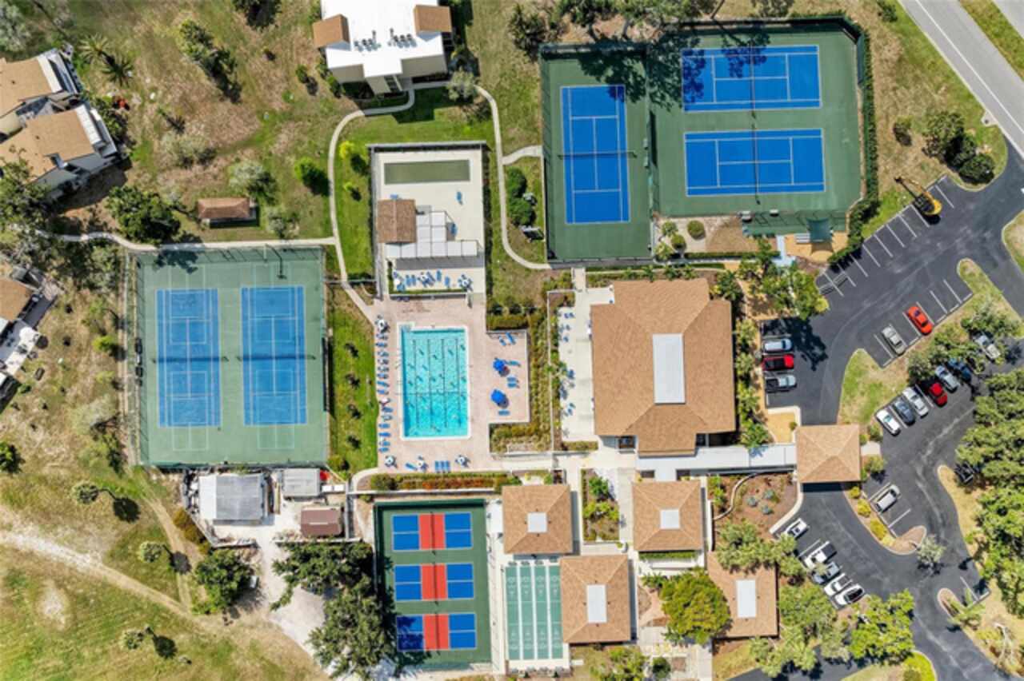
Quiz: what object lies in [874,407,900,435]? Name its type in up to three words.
car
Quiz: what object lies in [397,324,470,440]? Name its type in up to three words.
swimming pool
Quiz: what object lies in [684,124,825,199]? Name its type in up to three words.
tennis court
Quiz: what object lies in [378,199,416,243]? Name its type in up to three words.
shed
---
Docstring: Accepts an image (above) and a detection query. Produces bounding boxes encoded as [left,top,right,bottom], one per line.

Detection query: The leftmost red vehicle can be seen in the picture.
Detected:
[761,356,794,369]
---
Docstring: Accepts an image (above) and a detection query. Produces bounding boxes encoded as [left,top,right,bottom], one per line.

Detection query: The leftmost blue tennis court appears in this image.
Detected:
[150,264,224,450]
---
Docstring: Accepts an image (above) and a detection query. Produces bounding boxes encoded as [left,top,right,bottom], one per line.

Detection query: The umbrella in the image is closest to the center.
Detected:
[492,359,506,372]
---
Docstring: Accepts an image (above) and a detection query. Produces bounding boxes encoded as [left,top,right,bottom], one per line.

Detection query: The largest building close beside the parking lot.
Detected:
[591,278,736,455]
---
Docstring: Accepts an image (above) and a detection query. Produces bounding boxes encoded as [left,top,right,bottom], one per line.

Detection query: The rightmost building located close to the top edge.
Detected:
[313,0,452,92]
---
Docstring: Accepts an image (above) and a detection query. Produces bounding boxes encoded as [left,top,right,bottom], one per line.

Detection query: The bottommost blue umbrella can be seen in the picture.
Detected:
[490,389,505,404]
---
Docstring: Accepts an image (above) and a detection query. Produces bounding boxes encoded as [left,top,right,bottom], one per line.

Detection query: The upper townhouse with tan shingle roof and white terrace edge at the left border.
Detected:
[0,46,85,141]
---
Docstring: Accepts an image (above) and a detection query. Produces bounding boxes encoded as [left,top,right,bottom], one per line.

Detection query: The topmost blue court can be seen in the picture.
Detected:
[681,39,821,115]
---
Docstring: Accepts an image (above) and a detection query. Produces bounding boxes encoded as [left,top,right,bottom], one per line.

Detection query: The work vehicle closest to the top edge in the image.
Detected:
[897,177,941,215]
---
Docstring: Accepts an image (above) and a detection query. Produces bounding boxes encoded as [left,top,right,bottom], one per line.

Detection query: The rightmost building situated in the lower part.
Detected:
[791,424,861,483]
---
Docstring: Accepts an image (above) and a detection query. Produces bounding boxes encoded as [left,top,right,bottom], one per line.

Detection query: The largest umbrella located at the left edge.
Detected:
[11,324,35,342]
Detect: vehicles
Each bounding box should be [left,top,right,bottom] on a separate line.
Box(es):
[784,517,807,537]
[802,538,835,568]
[890,397,915,425]
[811,556,840,584]
[934,365,960,391]
[871,487,899,513]
[761,338,791,352]
[836,582,864,605]
[907,306,933,334]
[897,177,941,215]
[874,407,900,435]
[923,379,949,407]
[949,353,974,380]
[880,326,906,354]
[761,356,794,369]
[823,572,853,600]
[902,388,927,416]
[763,376,796,389]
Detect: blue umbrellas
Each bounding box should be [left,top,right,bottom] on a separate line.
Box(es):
[490,389,505,404]
[492,359,506,372]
